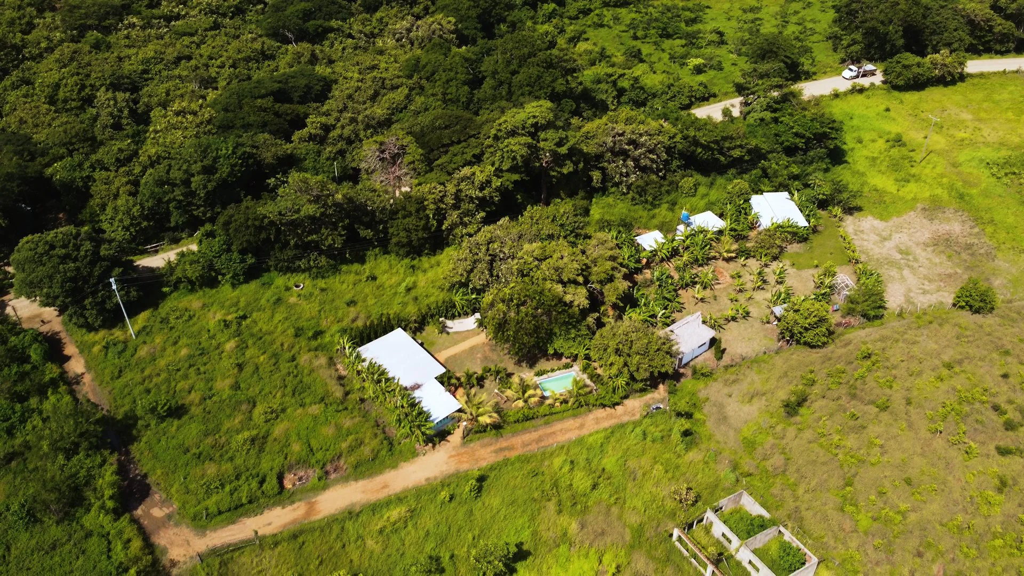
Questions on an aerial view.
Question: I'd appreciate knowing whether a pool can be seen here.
Yes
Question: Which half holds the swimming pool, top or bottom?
bottom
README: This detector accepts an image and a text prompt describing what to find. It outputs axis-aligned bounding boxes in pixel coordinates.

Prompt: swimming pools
[525,364,596,400]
